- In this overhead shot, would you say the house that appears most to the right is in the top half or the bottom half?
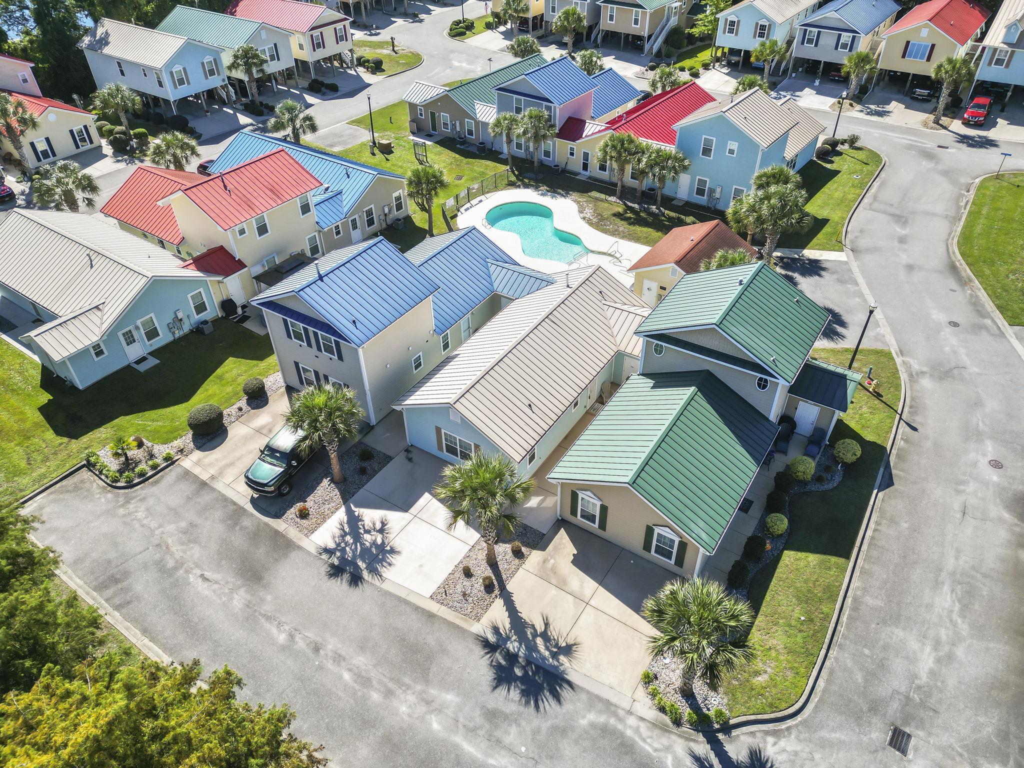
top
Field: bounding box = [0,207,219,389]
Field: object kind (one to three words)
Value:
house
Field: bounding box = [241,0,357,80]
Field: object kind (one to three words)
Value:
house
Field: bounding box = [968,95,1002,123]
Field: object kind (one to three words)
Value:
truck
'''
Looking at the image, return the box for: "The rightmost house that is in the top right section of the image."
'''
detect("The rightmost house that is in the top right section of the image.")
[967,7,1024,111]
